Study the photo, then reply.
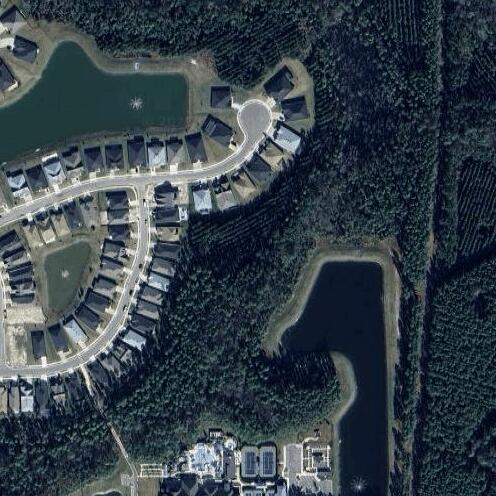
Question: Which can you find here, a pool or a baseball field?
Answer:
pool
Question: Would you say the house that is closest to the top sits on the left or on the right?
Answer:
left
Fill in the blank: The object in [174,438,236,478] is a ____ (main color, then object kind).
white swimming pool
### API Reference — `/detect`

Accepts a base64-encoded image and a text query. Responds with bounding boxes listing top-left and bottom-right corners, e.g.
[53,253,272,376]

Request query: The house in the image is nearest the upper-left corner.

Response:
[0,4,27,29]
